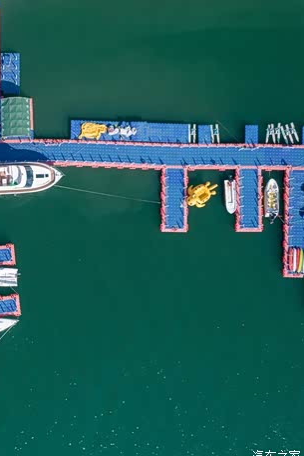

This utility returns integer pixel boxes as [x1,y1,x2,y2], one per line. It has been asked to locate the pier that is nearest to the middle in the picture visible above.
[158,170,188,232]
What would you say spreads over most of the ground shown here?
water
